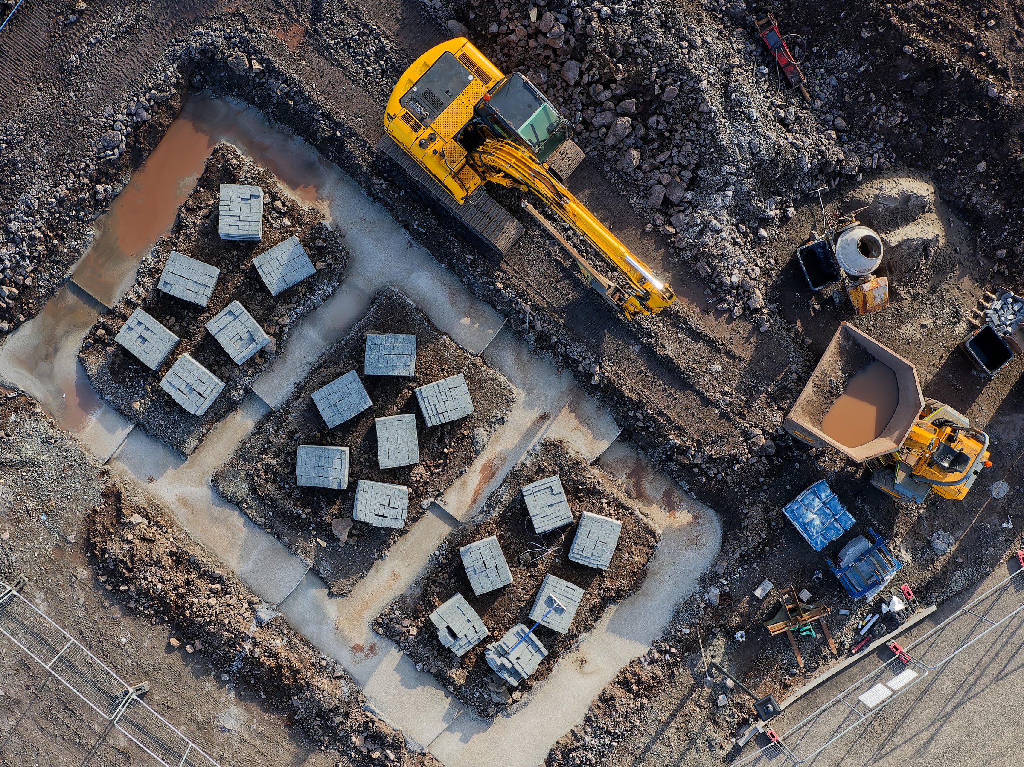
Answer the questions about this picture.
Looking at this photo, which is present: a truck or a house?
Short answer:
truck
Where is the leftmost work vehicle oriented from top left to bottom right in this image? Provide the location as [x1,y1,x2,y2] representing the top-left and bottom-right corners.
[367,38,677,321]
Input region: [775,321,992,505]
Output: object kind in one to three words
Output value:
truck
